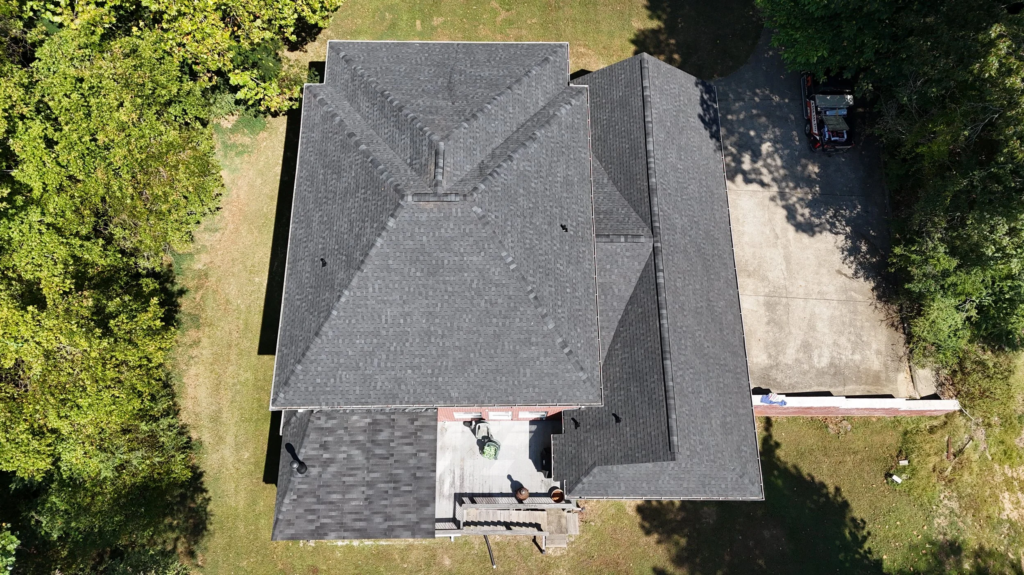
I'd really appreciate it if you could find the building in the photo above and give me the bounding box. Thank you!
[269,40,764,542]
